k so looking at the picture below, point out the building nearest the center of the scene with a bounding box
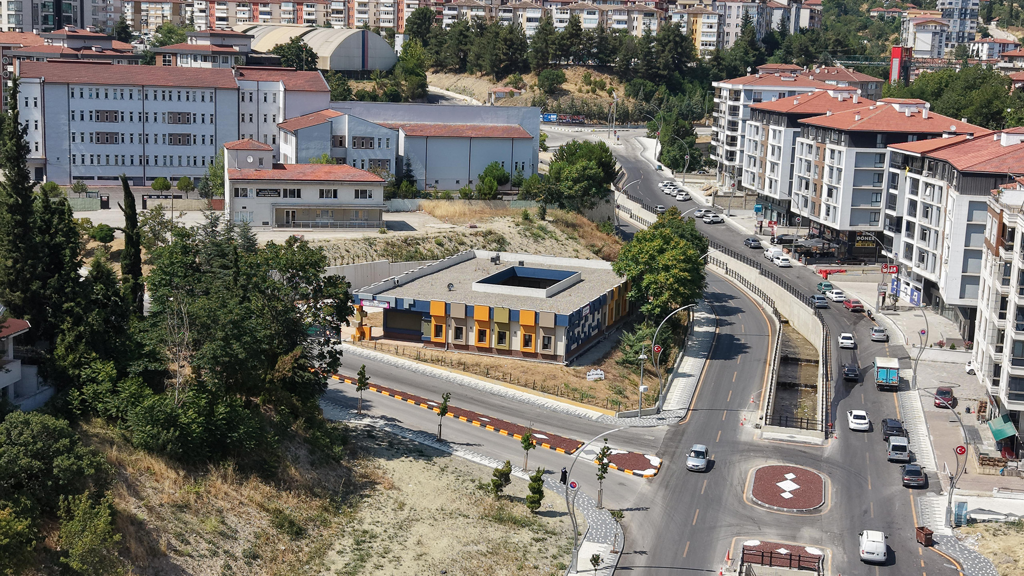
[353,248,632,365]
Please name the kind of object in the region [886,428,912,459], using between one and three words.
car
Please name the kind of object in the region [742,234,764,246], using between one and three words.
vehicle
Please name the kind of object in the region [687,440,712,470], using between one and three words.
car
